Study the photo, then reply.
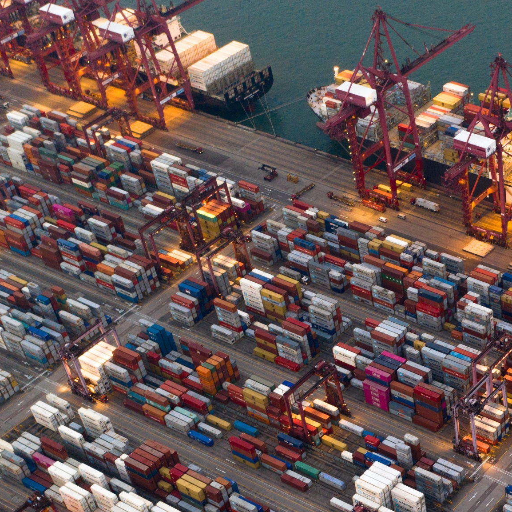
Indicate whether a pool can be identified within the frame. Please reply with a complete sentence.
No, there is no pool in the image.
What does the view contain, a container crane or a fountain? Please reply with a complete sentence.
This aerial view contains a container crane.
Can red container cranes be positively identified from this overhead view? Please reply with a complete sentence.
Yes, there is a red container crane in the image.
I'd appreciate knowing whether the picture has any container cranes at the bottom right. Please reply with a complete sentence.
Yes, a container crane appears at the bottom right.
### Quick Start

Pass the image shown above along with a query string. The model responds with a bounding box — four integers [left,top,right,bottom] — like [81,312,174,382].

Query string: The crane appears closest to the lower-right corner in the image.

[452,375,504,458]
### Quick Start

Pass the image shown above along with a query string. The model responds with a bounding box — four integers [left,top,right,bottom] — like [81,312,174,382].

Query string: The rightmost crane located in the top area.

[426,56,512,249]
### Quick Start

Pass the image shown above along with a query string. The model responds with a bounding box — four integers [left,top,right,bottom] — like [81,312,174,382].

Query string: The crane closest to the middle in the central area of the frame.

[192,228,252,300]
